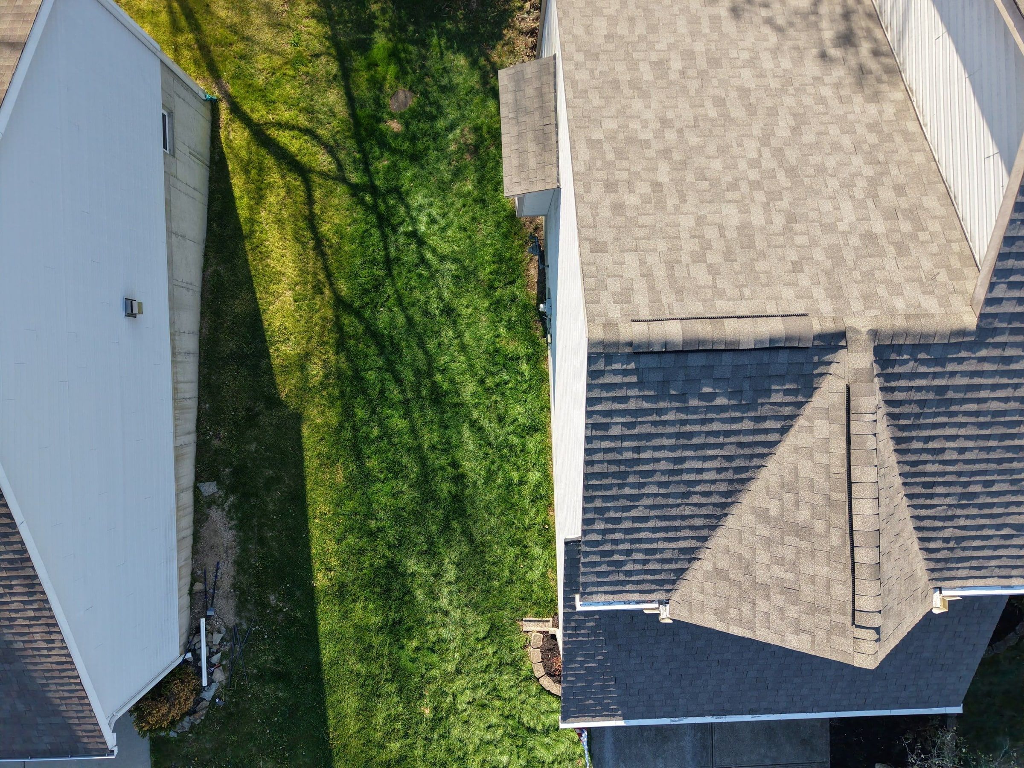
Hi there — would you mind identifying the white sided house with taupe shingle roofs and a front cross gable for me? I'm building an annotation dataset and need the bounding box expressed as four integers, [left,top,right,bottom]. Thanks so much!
[497,0,1024,732]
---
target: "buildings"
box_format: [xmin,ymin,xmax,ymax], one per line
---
[497,0,1024,732]
[0,0,208,754]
